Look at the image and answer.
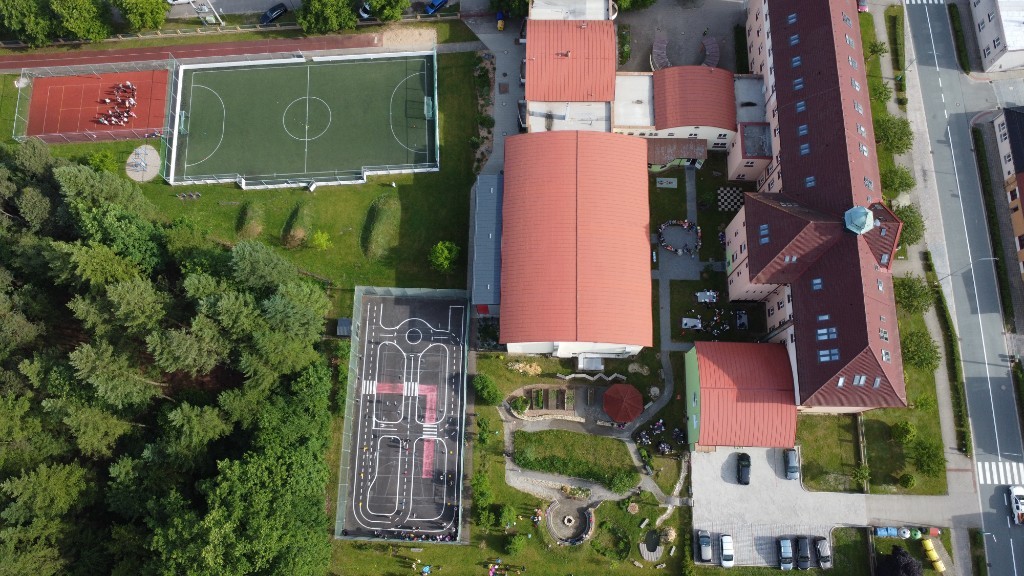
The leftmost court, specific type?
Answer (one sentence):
The leftmost court appears to be a tennis court.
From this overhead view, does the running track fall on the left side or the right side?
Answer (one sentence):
The running track sits on the left side.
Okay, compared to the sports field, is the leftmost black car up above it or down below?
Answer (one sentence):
As seen from overhead, the leftmost black car falls above the sports field in the picture.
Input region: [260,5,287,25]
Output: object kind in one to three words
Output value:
car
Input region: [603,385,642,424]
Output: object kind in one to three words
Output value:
gazebo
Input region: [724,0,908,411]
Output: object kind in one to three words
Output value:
building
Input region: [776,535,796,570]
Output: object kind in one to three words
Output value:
car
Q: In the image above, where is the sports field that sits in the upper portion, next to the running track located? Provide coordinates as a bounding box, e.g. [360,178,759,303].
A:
[163,44,439,190]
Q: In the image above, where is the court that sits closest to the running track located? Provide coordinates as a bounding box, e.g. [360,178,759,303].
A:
[10,54,180,145]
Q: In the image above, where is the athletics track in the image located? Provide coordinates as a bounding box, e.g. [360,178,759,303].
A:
[0,31,382,69]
